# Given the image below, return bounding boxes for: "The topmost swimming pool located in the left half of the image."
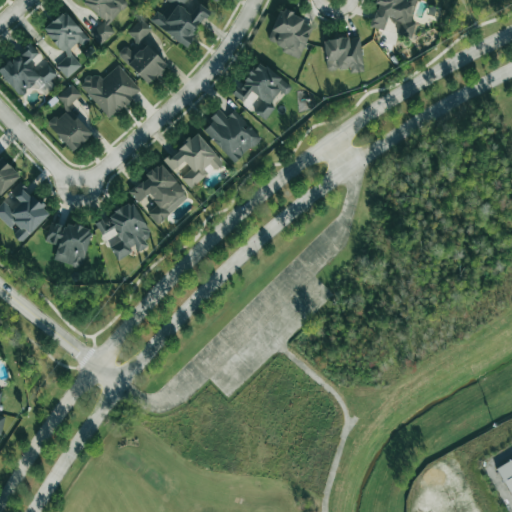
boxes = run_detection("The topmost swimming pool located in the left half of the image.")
[25,80,50,107]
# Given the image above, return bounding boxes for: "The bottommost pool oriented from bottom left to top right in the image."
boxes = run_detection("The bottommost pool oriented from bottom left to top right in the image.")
[168,199,194,225]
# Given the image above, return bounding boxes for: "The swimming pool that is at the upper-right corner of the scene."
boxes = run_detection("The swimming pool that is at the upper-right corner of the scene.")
[414,0,437,24]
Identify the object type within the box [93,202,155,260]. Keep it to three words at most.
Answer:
house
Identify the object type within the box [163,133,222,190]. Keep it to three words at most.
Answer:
house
